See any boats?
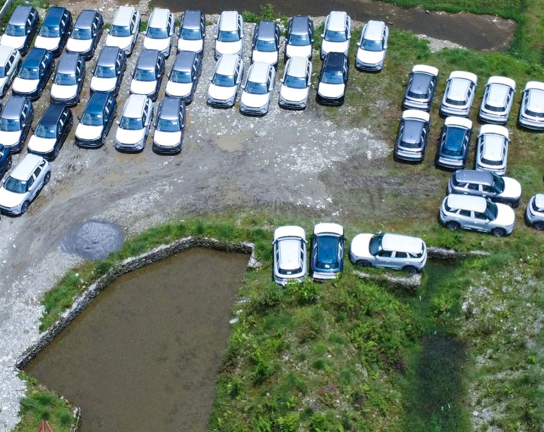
No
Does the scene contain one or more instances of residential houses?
No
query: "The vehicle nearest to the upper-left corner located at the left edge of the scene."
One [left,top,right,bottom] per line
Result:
[0,6,41,56]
